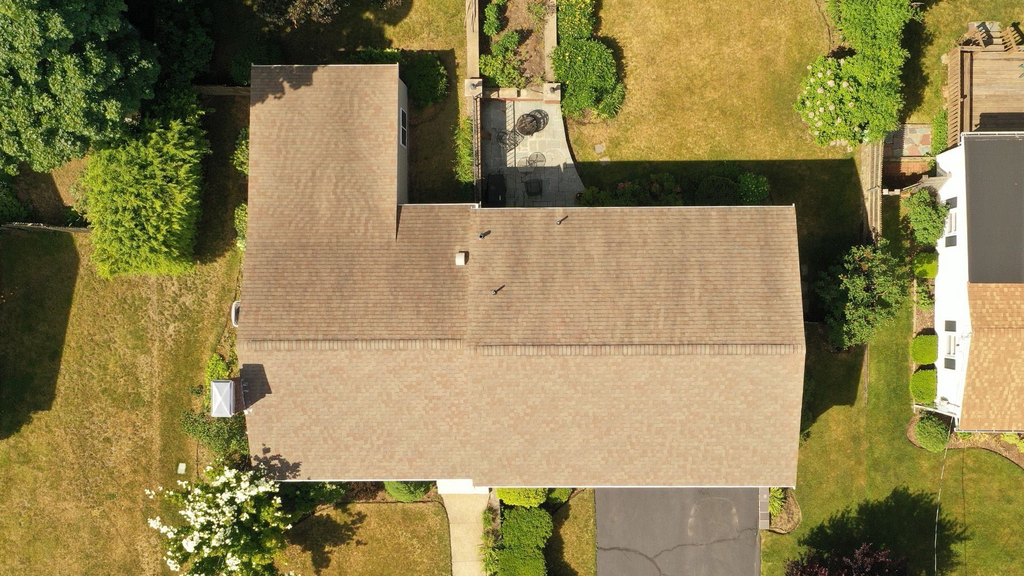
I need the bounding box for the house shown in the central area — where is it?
[211,65,805,494]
